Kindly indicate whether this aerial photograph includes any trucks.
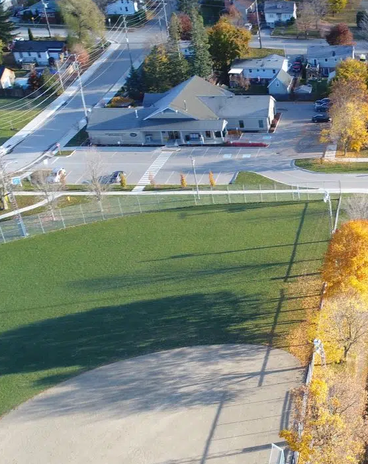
No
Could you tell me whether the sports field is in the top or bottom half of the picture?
bottom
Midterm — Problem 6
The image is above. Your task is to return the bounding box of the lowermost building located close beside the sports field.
[80,75,281,153]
